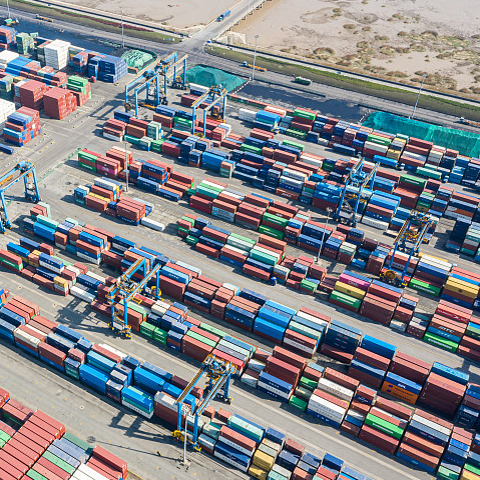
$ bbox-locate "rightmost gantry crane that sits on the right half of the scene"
[375,212,432,289]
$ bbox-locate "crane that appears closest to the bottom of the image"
[167,352,238,453]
